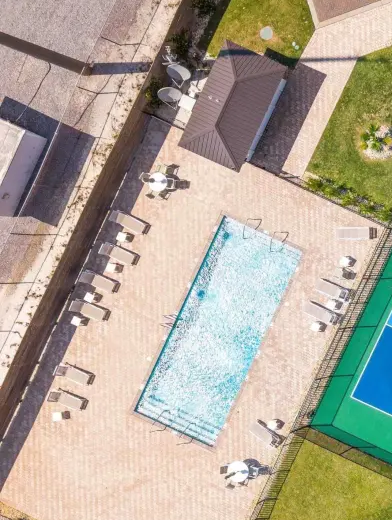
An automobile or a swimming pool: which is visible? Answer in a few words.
swimming pool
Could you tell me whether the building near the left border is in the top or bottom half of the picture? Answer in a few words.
top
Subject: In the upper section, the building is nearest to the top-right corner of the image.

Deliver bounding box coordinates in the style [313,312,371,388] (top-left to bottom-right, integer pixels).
[178,39,298,172]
